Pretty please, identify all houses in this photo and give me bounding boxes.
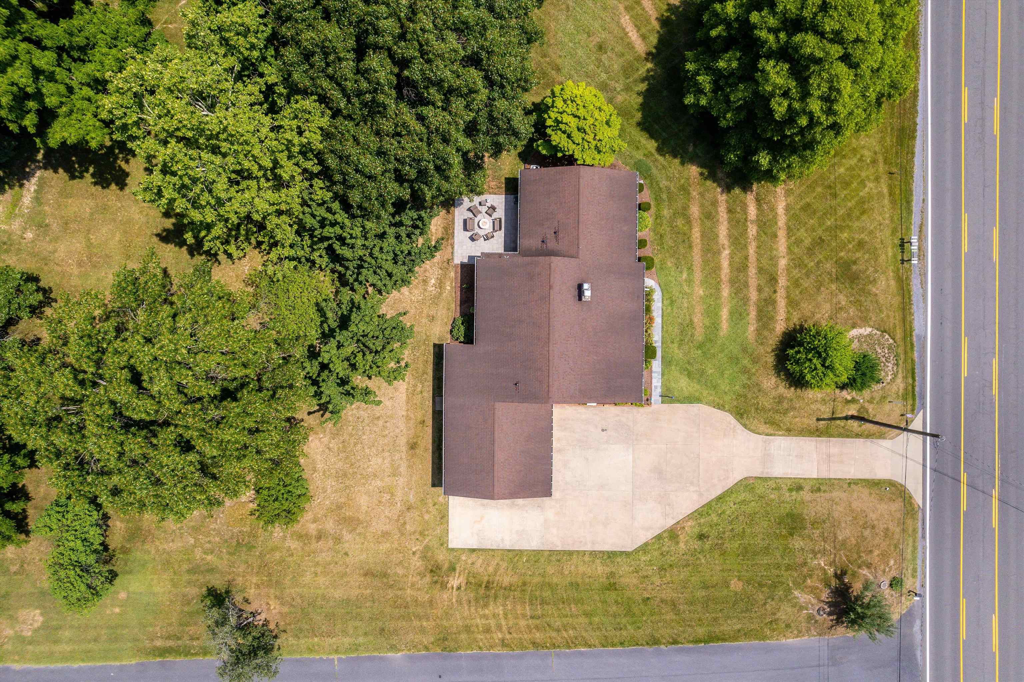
[442,164,649,500]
